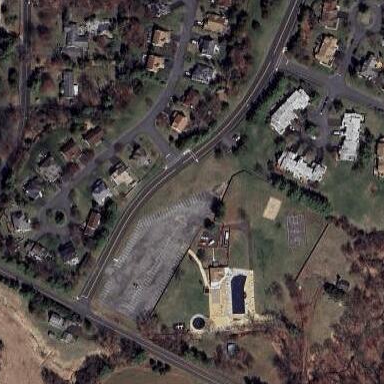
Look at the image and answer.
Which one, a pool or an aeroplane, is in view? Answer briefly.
pool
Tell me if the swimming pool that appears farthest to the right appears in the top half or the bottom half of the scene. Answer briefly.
bottom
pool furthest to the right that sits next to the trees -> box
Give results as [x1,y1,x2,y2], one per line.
[210,268,267,328]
